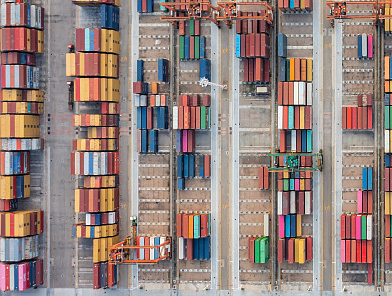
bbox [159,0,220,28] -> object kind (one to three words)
container crane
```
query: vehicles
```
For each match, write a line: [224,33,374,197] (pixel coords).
[130,217,137,244]
[65,81,73,109]
[66,45,74,55]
